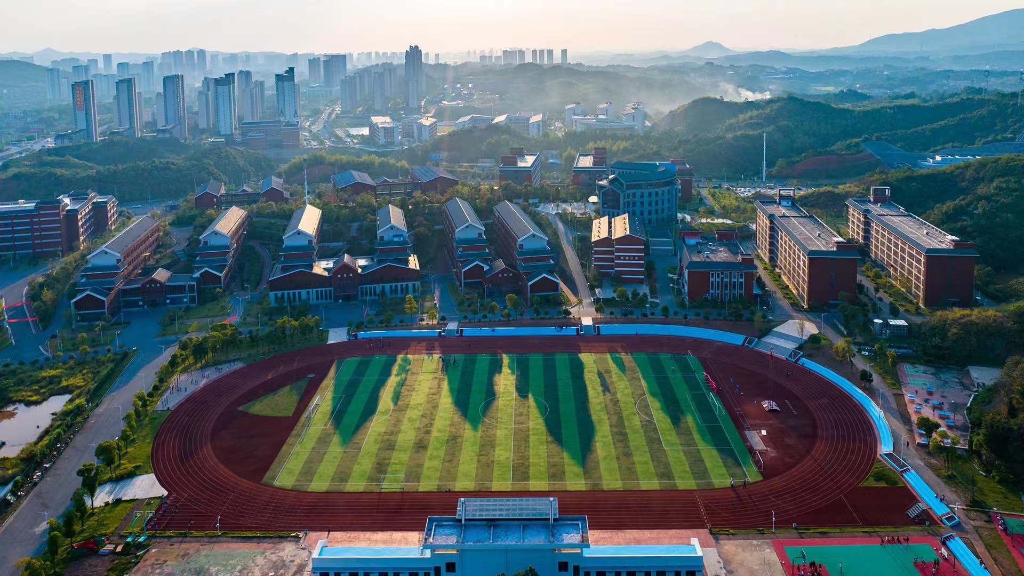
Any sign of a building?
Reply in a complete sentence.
Yes, the image includes a building.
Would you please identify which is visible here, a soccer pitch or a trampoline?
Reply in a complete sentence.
This aerial view contains a soccer pitch.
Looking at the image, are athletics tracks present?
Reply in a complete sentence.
Yes, the frame does contain an athletics track.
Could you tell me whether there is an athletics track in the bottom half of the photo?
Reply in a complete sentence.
Yes, an athletics track is visible in the bottom half of the photo.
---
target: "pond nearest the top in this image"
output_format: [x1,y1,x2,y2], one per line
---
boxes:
[0,394,70,459]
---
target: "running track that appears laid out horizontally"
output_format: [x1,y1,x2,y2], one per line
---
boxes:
[112,336,934,531]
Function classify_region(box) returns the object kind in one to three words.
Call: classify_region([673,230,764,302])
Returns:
building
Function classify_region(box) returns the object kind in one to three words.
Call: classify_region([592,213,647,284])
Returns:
building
